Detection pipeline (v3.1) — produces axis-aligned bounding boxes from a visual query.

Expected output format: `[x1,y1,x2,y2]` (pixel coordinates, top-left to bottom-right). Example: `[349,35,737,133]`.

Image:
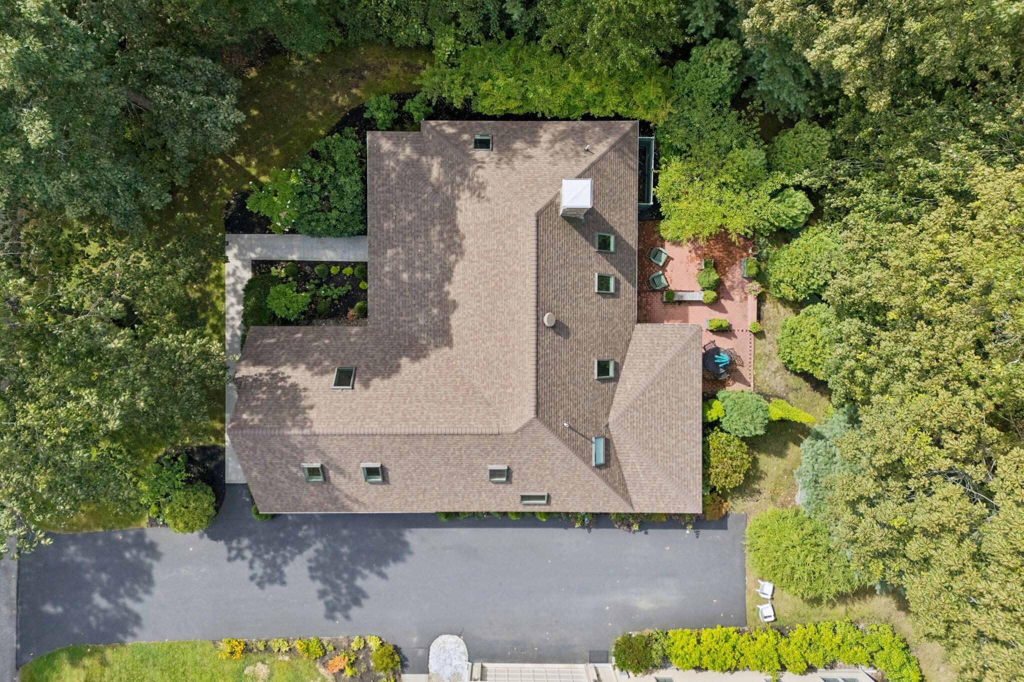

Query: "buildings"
[228,119,704,515]
[452,655,877,682]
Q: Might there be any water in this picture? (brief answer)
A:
No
